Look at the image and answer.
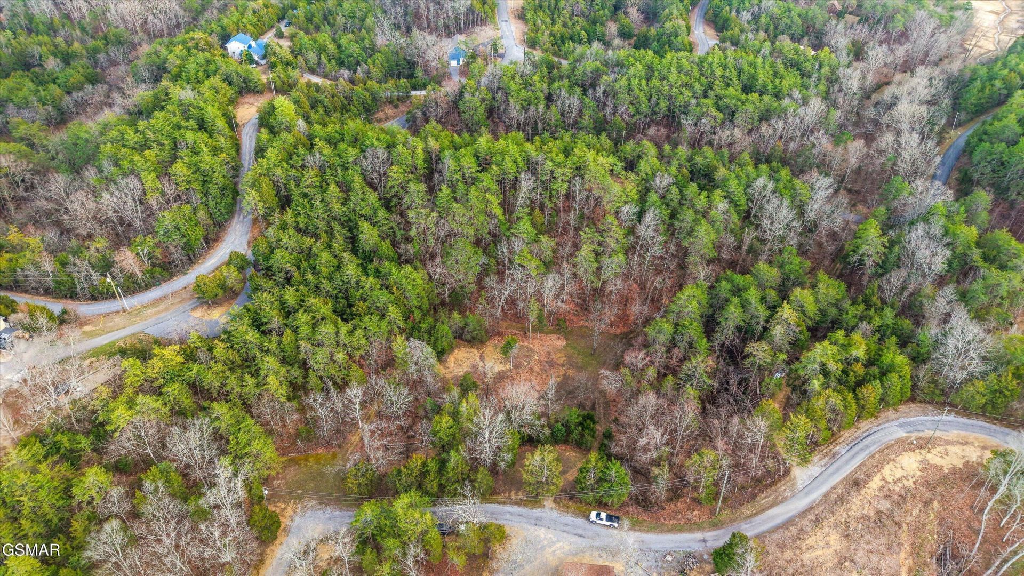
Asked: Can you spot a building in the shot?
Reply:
Yes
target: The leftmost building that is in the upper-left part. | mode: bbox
[223,30,278,60]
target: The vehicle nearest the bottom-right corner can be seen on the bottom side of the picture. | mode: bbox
[587,512,622,530]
